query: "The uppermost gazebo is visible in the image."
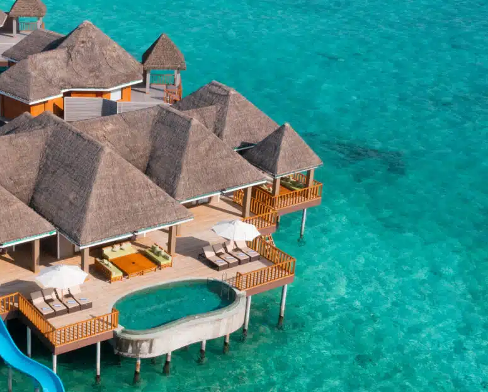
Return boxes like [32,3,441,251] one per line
[11,0,46,38]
